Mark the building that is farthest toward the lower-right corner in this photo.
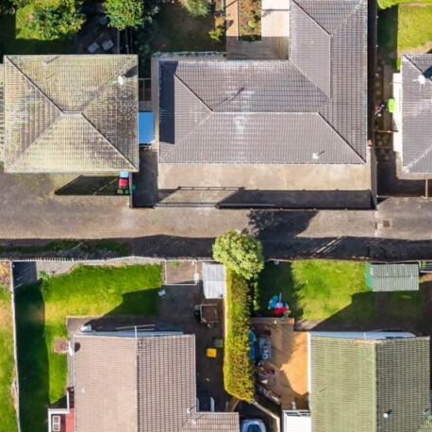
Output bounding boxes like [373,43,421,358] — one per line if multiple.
[304,330,432,432]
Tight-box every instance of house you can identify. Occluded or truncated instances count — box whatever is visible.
[304,330,432,432]
[156,0,369,166]
[0,52,140,175]
[391,52,432,176]
[71,327,241,432]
